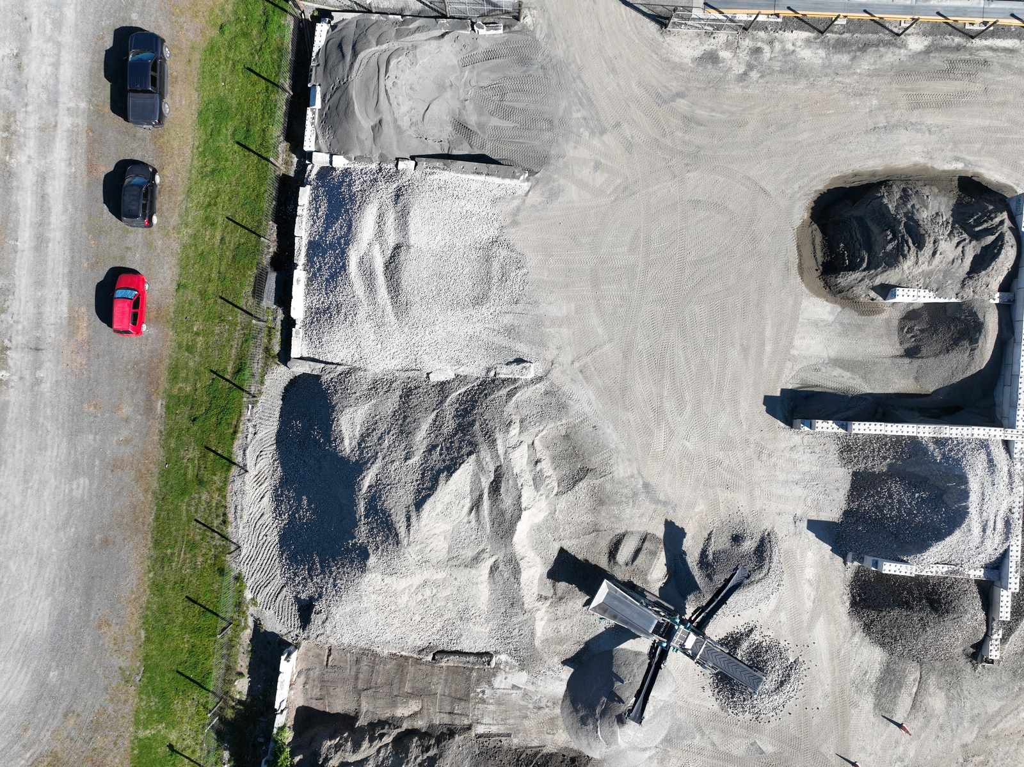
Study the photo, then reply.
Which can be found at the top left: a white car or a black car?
black car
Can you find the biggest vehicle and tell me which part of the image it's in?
top left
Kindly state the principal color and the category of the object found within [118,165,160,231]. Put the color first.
black car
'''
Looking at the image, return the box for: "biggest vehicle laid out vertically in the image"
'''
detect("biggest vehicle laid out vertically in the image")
[126,33,170,131]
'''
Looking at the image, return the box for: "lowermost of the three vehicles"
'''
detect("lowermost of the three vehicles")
[108,273,149,339]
